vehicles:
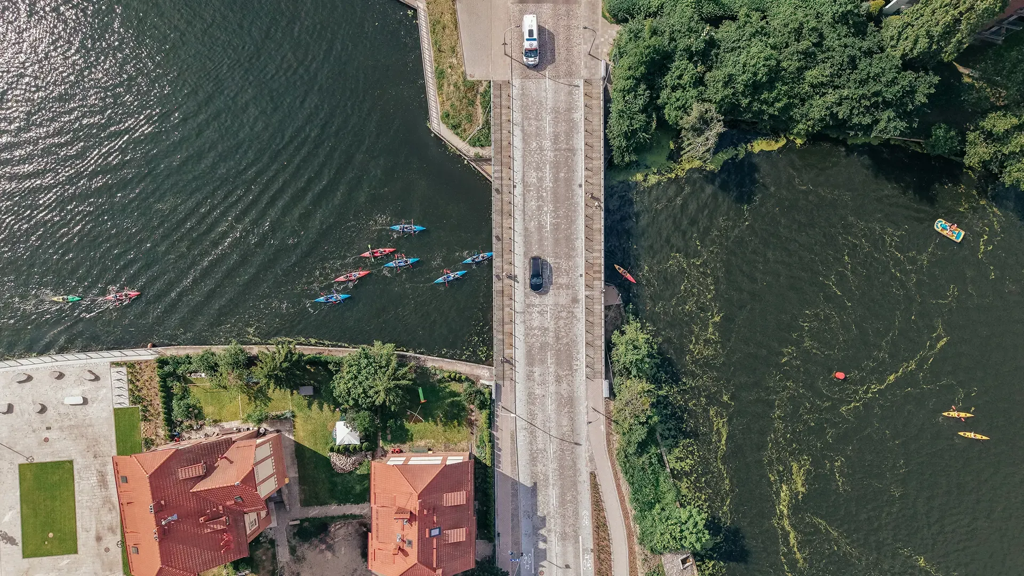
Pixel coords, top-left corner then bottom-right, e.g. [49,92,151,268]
[529,256,544,292]
[523,11,540,63]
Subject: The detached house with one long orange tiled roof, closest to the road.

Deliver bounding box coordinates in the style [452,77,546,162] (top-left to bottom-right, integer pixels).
[370,450,475,576]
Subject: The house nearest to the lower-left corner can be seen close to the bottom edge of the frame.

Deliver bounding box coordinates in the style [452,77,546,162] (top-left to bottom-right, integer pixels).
[112,429,300,576]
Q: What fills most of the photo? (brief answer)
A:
water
